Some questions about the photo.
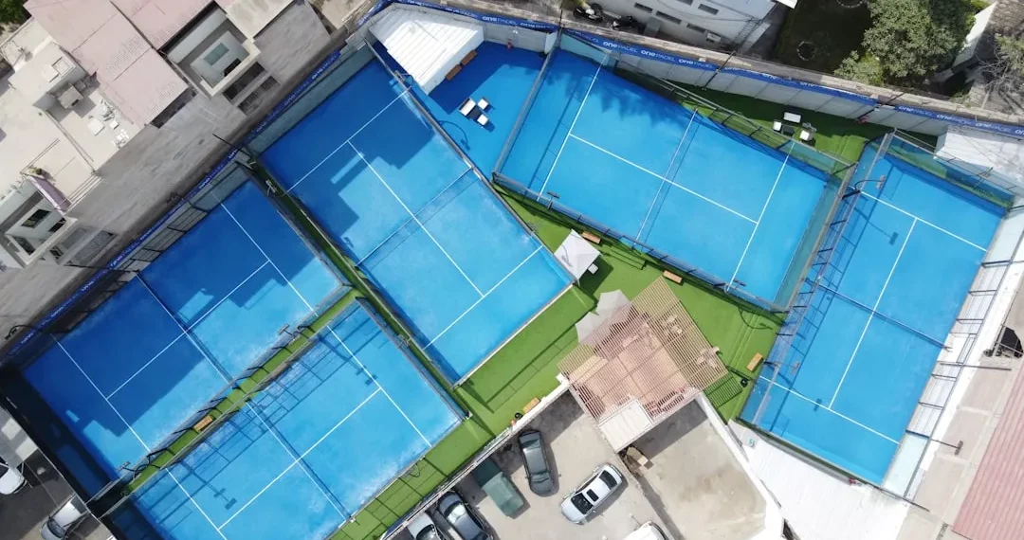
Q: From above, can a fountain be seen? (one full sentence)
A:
No, I find no fountain anywhere in the image.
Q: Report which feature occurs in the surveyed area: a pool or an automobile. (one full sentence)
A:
The image shows an automobile.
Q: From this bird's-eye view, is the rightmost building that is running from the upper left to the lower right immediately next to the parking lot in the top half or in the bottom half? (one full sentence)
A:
The rightmost building that is running from the upper left to the lower right immediately next to the parking lot sits in the bottom half of the picture.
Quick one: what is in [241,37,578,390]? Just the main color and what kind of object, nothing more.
blue sports court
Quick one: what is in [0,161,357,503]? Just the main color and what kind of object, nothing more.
blue sports court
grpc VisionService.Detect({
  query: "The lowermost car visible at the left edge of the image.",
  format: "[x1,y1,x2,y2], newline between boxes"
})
[37,489,93,540]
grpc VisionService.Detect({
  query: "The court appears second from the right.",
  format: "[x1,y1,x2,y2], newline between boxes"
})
[491,37,856,315]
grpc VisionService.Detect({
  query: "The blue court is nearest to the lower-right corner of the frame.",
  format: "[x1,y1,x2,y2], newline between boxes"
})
[736,130,1024,499]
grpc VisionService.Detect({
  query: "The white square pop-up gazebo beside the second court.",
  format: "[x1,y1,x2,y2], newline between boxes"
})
[549,227,603,281]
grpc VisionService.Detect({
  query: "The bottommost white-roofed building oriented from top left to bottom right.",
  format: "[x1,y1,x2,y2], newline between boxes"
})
[733,422,901,540]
